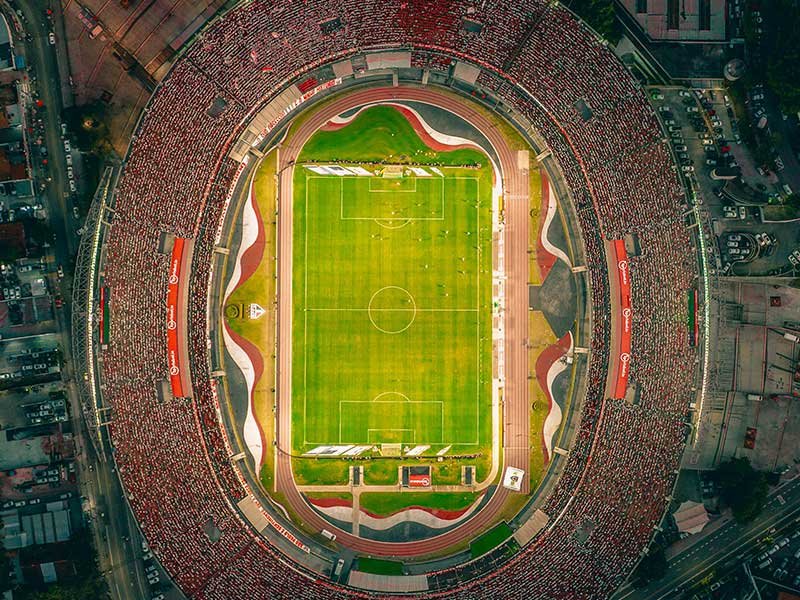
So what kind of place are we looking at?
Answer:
sports ground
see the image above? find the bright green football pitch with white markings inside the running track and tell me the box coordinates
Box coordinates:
[292,166,492,462]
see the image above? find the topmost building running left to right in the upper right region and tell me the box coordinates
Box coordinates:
[627,0,727,41]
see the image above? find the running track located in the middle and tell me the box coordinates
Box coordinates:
[277,88,529,556]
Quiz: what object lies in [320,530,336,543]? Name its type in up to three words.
vehicle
